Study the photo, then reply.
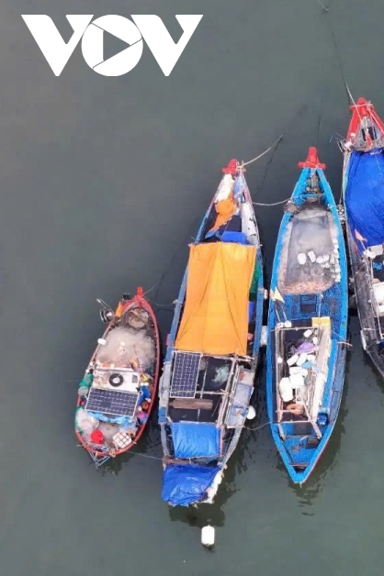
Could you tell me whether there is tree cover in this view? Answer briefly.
No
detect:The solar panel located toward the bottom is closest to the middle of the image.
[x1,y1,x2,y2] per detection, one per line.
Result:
[166,351,204,402]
